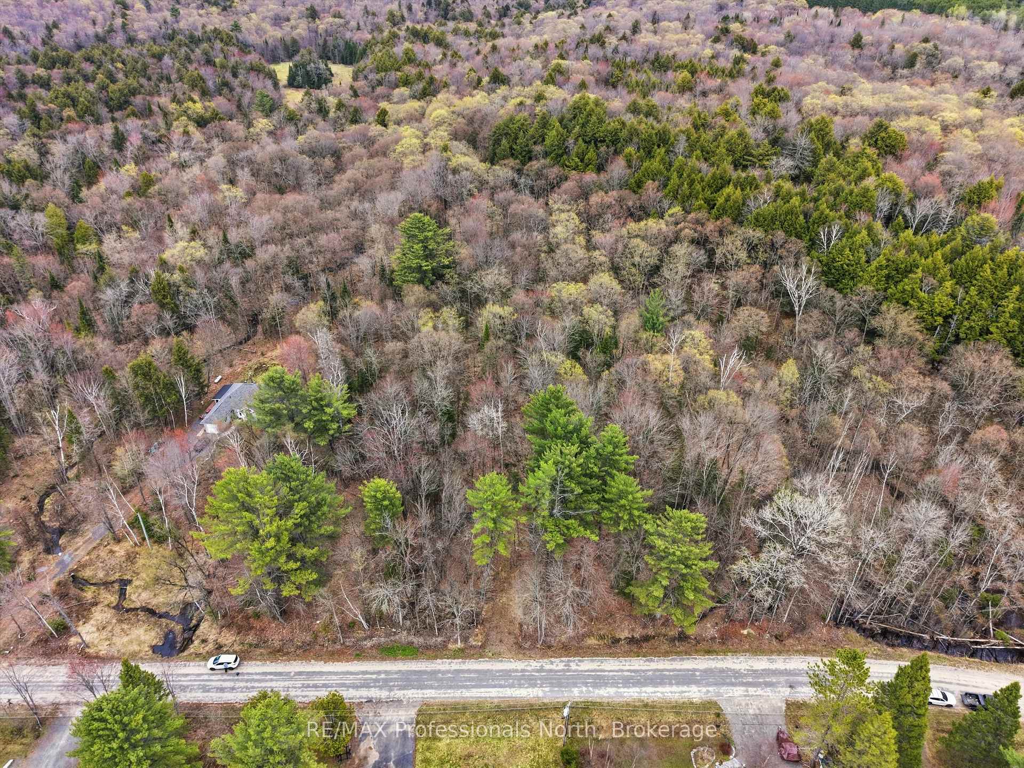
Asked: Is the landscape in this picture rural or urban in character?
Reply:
rural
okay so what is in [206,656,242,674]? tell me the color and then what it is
white car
